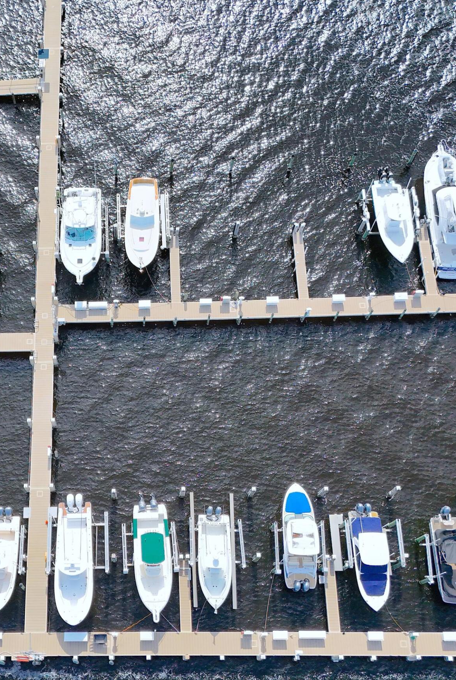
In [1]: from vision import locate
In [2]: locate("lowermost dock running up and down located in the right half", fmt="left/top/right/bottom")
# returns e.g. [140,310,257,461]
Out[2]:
[325,559,341,632]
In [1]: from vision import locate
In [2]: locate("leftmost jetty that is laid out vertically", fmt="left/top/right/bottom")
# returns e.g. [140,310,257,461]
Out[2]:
[24,0,62,633]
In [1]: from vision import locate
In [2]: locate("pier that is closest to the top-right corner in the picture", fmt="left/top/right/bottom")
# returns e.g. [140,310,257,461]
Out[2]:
[420,226,437,294]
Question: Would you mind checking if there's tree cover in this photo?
No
